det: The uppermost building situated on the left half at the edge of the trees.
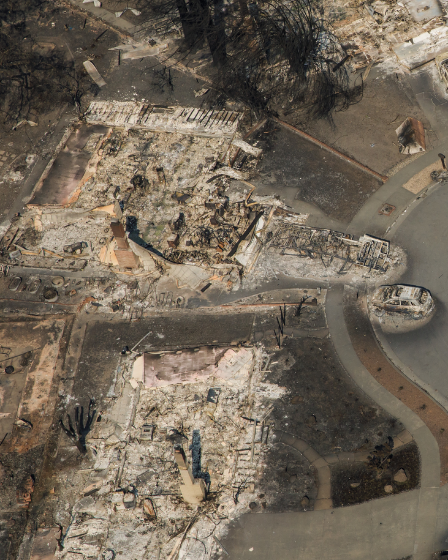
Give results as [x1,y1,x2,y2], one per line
[0,94,293,297]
